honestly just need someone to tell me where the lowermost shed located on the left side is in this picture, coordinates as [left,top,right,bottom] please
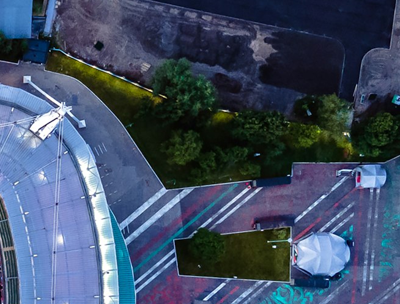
[21,40,49,67]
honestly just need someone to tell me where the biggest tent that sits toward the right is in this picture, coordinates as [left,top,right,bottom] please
[290,231,353,278]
